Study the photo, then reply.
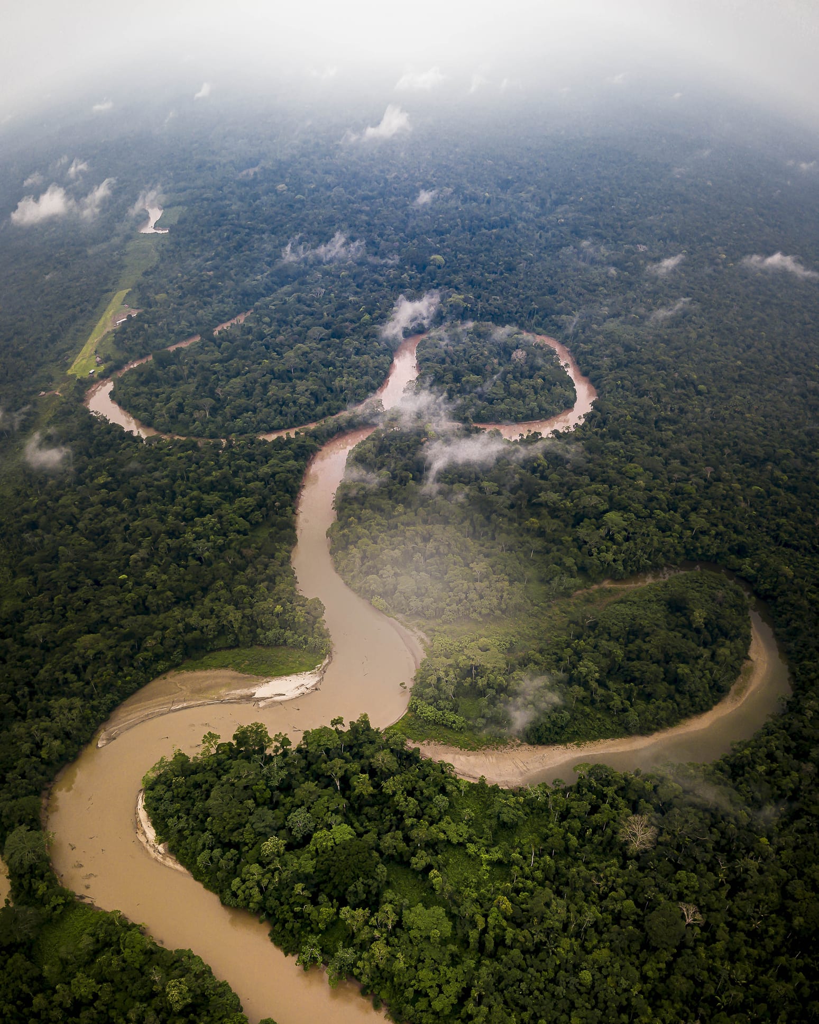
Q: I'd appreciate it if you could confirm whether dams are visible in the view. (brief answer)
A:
No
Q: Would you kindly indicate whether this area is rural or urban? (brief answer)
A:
rural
